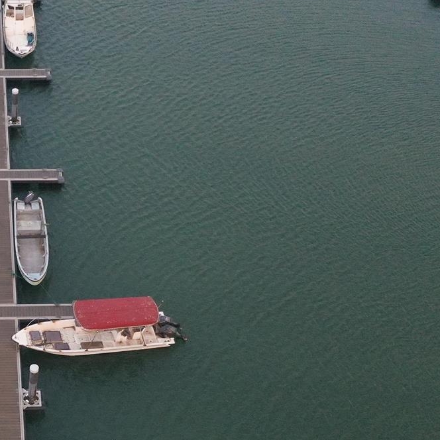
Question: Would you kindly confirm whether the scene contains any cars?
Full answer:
No, there appears to be no car in this shot.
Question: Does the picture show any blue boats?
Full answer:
No, there's no blue boat here.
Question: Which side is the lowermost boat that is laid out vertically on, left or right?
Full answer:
The lowermost boat that is laid out vertically appears in the left half of the scene.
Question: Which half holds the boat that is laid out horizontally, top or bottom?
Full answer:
Seen from above, the boat that is laid out horizontally lies in the bottom half of the view.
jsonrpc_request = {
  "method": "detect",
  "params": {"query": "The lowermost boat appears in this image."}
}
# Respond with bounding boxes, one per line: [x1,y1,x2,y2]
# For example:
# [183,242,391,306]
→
[11,291,193,355]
